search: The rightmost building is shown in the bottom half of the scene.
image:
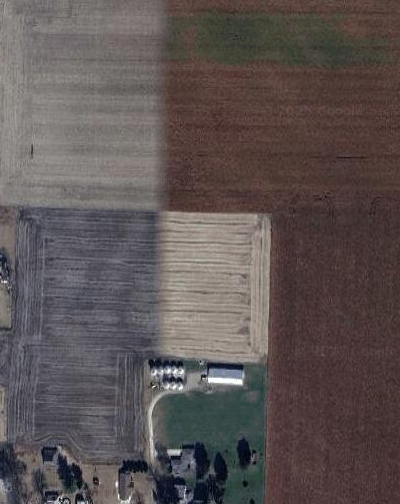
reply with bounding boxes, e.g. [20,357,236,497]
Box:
[208,366,244,385]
